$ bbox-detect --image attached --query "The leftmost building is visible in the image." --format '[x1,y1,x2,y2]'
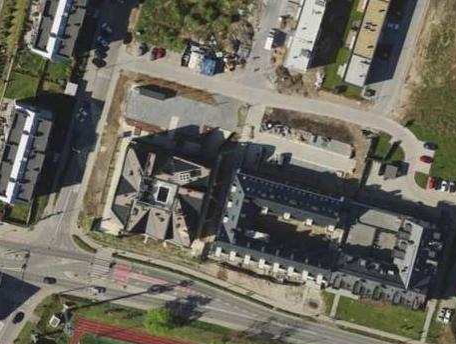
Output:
[0,100,53,212]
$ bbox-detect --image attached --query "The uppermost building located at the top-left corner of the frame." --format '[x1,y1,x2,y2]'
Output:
[31,0,90,66]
